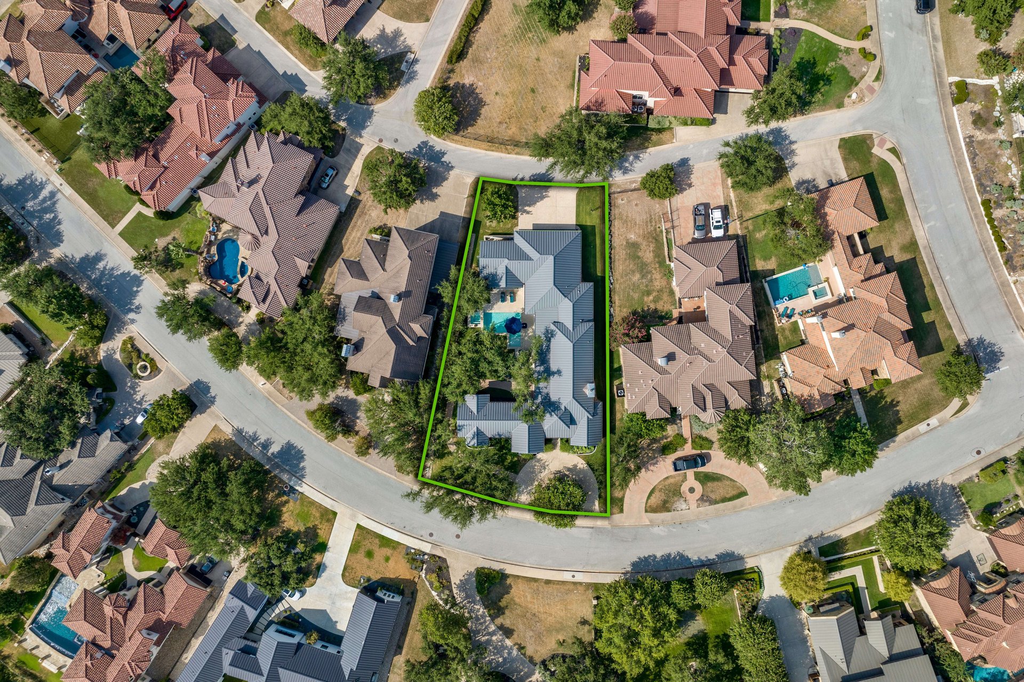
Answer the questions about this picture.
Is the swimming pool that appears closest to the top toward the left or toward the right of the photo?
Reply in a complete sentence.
You can find the swimming pool that appears closest to the top on the left side of the picture.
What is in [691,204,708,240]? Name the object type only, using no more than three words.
vehicle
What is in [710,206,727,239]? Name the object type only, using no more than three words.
car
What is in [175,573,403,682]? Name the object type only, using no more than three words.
house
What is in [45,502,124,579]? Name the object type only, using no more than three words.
house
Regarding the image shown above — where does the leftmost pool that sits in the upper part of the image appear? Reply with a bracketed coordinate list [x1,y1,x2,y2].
[100,43,140,70]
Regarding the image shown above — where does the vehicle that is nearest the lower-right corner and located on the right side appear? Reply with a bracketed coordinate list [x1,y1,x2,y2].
[671,455,706,471]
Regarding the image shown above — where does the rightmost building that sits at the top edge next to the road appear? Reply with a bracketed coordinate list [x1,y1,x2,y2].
[580,0,770,120]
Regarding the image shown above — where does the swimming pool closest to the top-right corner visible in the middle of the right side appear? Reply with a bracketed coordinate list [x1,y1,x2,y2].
[765,263,833,308]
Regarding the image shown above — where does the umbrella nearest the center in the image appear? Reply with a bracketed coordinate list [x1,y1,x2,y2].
[505,317,528,334]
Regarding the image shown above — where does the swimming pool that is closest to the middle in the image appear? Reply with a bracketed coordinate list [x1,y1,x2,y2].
[468,311,523,349]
